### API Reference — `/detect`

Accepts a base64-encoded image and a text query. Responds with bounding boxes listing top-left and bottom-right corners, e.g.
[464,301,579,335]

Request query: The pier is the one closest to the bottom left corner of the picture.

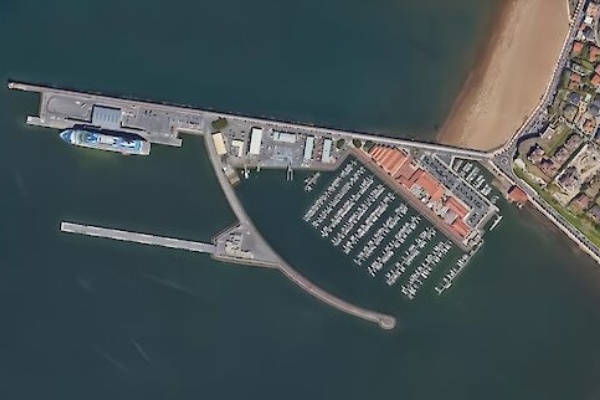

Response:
[61,223,219,253]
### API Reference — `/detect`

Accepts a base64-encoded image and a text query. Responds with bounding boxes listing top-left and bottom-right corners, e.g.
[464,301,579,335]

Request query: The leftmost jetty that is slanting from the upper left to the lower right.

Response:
[204,133,396,330]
